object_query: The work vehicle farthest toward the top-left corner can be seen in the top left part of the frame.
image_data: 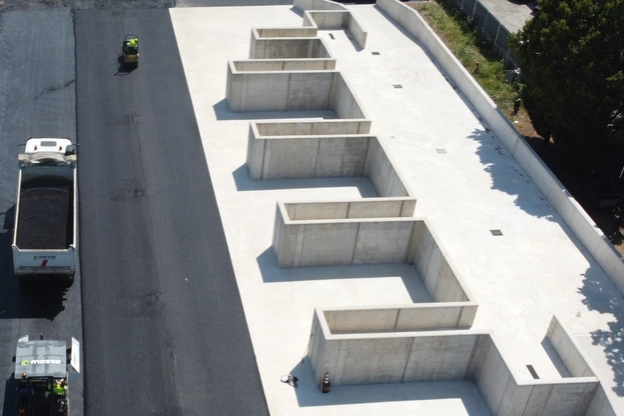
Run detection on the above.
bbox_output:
[117,25,139,68]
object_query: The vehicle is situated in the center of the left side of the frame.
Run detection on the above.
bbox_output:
[11,135,83,287]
